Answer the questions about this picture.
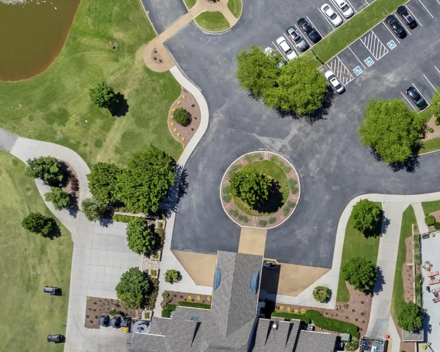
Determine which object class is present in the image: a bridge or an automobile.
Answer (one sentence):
Looking from above, you can make out an automobile.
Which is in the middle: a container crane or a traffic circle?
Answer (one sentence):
Visible in the middle is a traffic circle.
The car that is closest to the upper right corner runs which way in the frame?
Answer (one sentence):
Seen from above, the car that is closest to the upper right corner lies on a diagonal.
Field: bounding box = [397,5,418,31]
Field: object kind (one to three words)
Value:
car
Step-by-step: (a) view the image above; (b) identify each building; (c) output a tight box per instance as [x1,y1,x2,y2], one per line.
[402,323,424,341]
[129,251,350,352]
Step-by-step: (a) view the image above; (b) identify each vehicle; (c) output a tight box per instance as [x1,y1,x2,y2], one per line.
[286,27,308,52]
[263,45,284,71]
[333,0,353,19]
[326,70,346,95]
[299,17,320,43]
[49,333,65,342]
[397,5,418,31]
[110,315,122,327]
[276,36,298,61]
[406,85,427,110]
[320,2,342,28]
[385,14,407,39]
[99,314,111,326]
[45,287,61,294]
[121,316,131,328]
